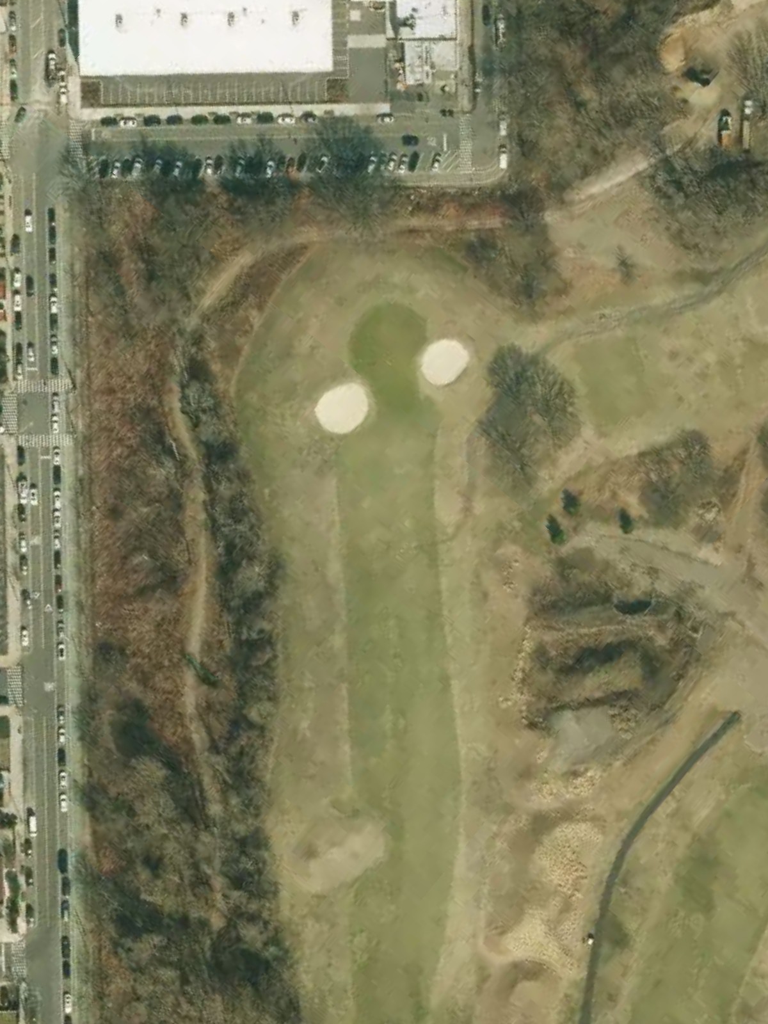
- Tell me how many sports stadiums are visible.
0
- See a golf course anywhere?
Yes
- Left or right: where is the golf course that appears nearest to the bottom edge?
right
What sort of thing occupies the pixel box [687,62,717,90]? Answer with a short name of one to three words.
work vehicle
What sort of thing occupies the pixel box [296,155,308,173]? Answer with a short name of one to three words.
vehicle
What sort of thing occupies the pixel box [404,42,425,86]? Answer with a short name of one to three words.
building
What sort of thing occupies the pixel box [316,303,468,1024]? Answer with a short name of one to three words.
golf course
